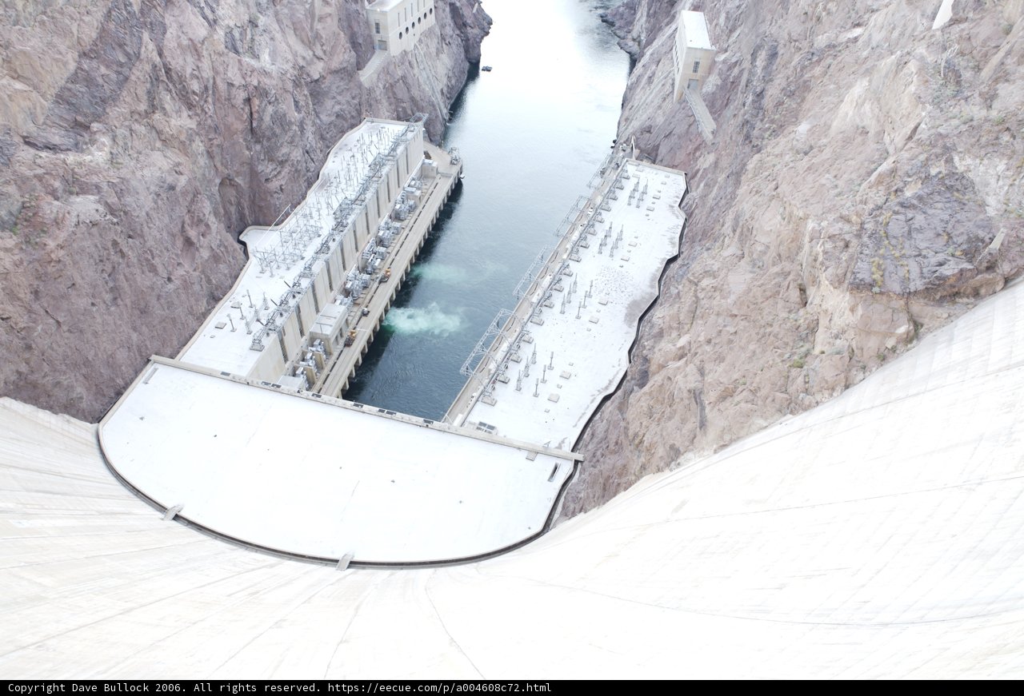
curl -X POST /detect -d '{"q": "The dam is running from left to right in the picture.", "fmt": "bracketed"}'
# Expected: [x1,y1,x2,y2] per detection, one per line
[0,269,1024,696]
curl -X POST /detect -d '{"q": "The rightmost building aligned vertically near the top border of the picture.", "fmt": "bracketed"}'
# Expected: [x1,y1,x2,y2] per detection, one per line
[670,9,715,118]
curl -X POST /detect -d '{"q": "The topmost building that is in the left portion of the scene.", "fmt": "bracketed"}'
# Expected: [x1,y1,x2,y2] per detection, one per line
[366,0,436,74]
